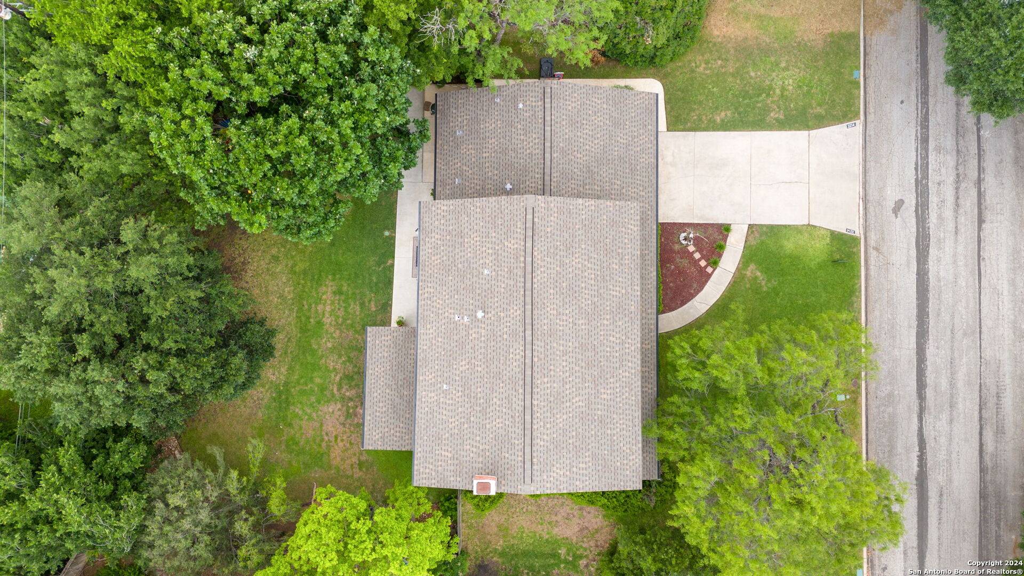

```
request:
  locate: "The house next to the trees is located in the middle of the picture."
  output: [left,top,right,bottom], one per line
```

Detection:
[361,79,664,495]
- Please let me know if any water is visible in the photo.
No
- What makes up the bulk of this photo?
trees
